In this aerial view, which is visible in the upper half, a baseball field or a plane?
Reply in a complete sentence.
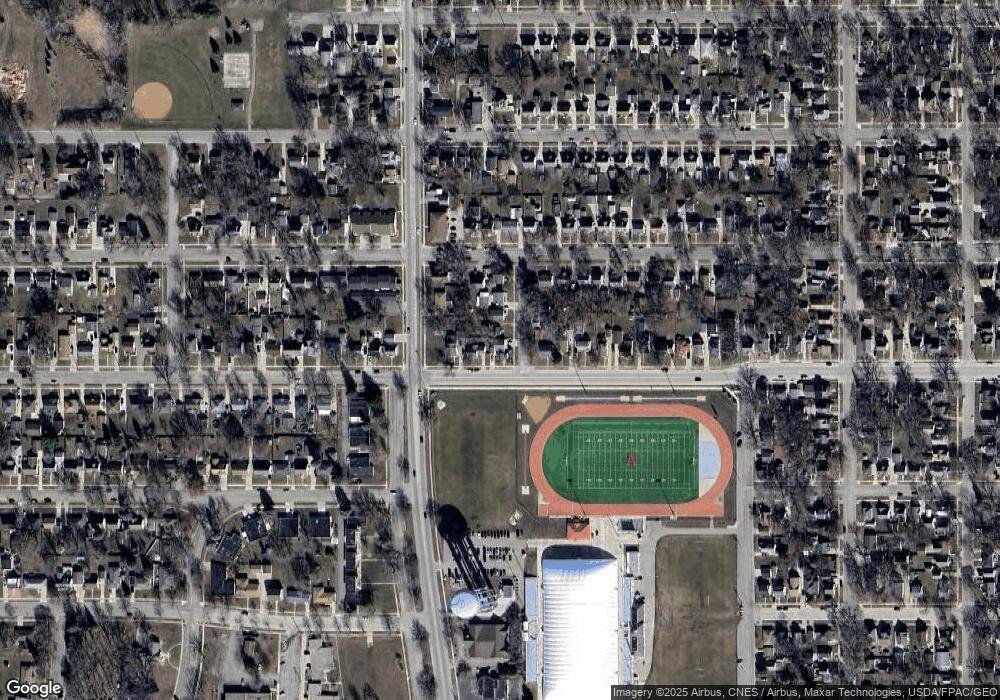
The one visible in the upper half is a baseball field.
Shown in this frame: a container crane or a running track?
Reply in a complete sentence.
There is a running track in the scene.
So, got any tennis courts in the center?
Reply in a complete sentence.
No, there is no tennis court in the center.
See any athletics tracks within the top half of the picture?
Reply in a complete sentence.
No, no athletics track appears within the top half of the picture.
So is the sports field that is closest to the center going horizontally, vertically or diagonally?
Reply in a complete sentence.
The sports field that is closest to the center runs horizontally in the image.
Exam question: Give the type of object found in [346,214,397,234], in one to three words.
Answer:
building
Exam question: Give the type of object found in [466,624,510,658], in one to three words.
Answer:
building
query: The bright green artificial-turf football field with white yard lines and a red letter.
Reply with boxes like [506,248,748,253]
[542,419,720,499]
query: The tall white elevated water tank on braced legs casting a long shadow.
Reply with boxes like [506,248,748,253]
[450,583,501,621]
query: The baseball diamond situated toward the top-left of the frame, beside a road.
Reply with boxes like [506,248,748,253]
[129,38,216,125]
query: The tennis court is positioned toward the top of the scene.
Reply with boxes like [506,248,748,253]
[225,53,250,88]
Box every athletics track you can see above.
[527,404,734,516]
